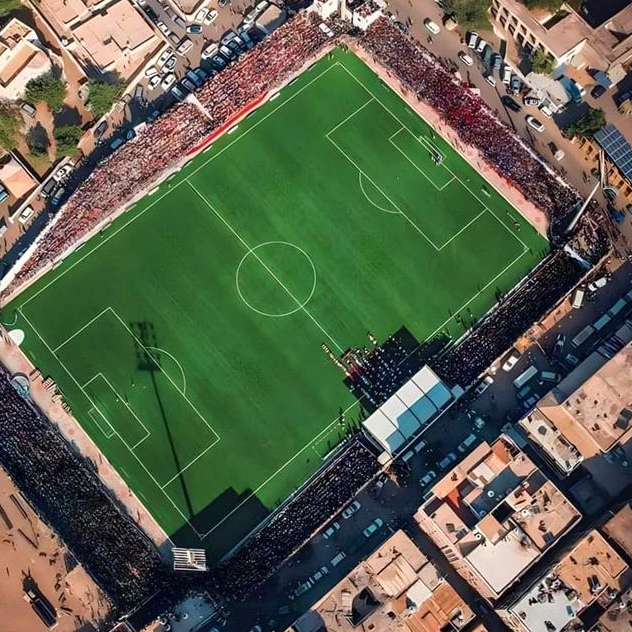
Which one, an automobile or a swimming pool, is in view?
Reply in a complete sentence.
This aerial view contains an automobile.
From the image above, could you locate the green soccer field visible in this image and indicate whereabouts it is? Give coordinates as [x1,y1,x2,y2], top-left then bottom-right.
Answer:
[0,42,554,562]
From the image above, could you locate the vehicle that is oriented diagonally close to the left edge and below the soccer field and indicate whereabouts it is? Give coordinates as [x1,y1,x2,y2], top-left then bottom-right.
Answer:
[26,585,56,623]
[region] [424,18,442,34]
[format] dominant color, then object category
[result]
white car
